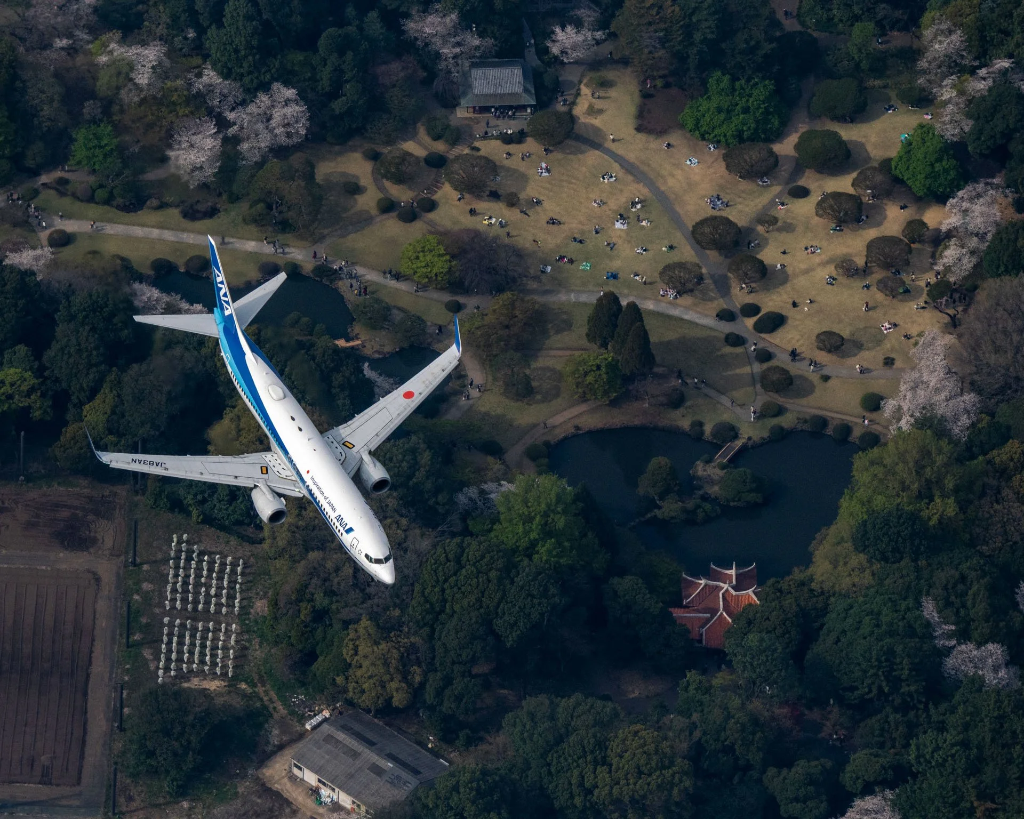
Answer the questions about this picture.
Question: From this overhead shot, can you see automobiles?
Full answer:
No, no automobile can be seen from above.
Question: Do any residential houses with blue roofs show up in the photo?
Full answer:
No, there appears to be no residential house with a blue roof in this shot.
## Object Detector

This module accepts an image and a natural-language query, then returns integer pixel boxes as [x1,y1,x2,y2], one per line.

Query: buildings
[457,62,535,123]
[290,709,451,819]
[667,559,777,652]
